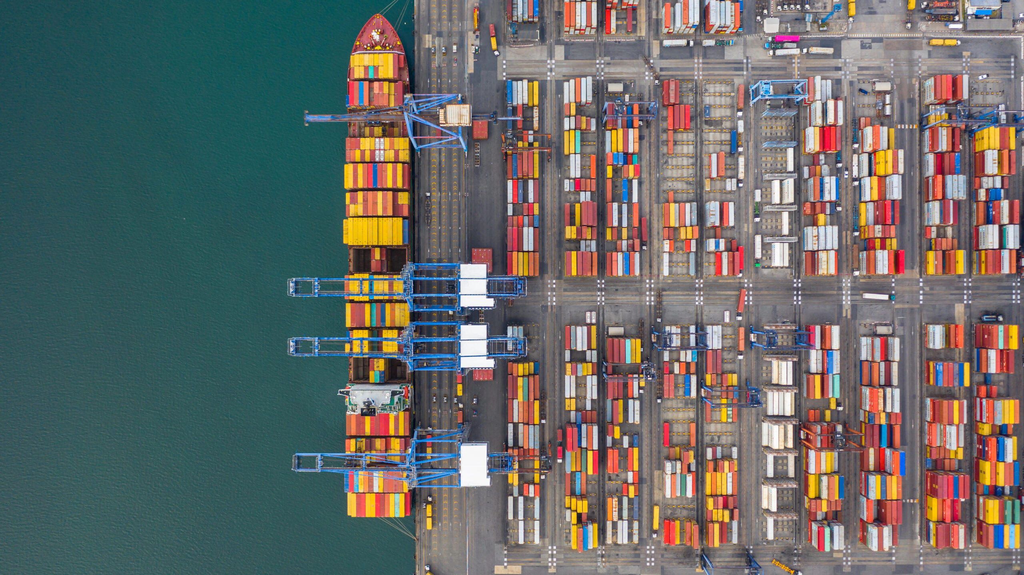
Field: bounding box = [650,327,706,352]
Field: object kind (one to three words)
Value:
container crane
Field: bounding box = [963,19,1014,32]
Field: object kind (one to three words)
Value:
building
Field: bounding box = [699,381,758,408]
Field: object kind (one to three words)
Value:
container crane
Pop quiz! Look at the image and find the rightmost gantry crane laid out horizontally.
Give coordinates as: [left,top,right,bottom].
[966,106,1024,136]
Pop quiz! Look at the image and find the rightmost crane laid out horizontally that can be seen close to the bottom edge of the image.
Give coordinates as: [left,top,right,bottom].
[699,550,757,575]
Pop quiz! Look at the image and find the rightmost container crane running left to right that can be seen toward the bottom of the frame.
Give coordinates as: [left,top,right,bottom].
[797,424,860,452]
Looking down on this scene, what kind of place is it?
port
